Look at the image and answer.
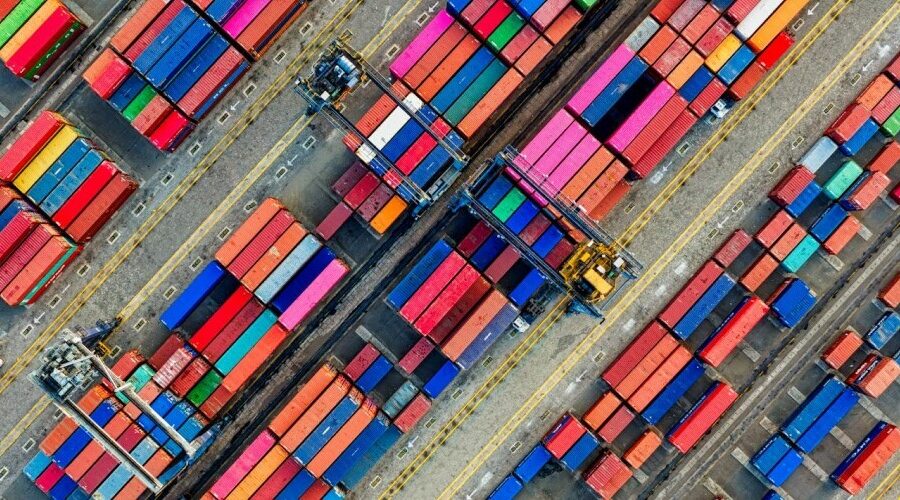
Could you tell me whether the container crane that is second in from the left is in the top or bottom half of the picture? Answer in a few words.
top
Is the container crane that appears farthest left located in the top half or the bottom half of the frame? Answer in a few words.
bottom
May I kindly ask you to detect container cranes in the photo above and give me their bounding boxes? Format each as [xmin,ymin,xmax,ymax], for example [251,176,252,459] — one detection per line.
[11,308,239,500]
[286,34,477,221]
[446,131,655,324]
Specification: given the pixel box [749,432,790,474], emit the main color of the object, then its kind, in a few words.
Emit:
blue shipping container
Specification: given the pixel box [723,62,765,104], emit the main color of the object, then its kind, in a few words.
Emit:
red shipping container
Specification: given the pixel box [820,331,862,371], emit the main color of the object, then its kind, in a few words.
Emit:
red shipping container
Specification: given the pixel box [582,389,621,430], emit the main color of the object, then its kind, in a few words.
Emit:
orange shipping container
